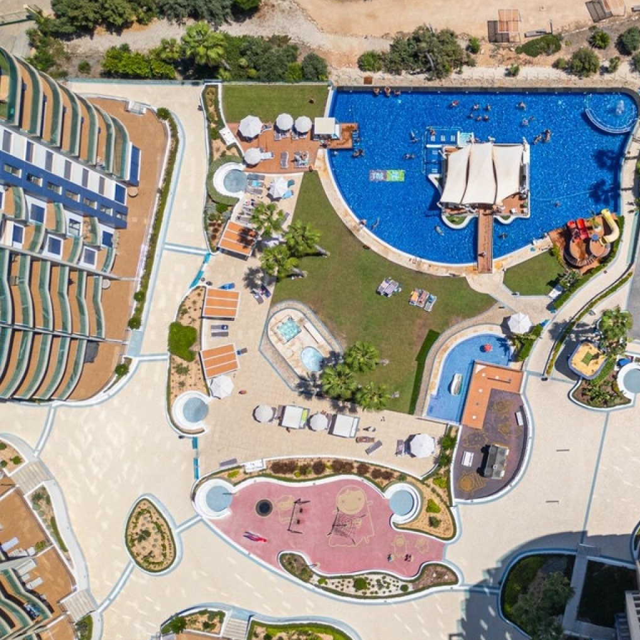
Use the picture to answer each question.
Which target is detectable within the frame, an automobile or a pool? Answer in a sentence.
There is a pool in the scene.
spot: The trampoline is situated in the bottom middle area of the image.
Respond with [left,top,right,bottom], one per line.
[255,499,272,516]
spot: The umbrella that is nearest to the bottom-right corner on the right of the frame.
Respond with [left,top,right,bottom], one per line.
[409,431,436,458]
